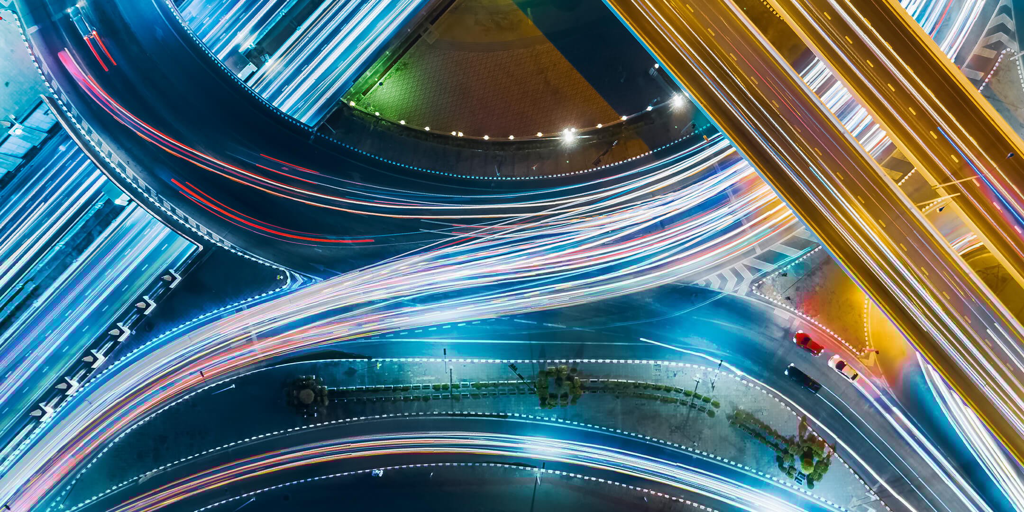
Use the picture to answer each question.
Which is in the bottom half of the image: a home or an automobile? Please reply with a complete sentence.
What appears in the bottom half of the image is an automobile.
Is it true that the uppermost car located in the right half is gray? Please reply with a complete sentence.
No, the color of the uppermost car located in the right half is red.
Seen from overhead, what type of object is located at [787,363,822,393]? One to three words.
car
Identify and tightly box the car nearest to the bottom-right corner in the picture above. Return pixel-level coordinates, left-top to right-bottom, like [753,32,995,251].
[830,354,861,381]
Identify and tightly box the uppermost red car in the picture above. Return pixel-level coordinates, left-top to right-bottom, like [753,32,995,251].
[795,330,826,356]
